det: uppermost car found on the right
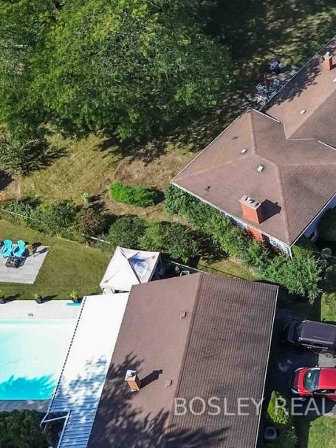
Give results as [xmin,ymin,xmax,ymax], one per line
[279,316,336,359]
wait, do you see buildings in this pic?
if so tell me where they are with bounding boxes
[171,36,336,254]
[42,269,281,448]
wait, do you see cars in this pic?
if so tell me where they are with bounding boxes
[288,361,336,401]
[279,316,336,359]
